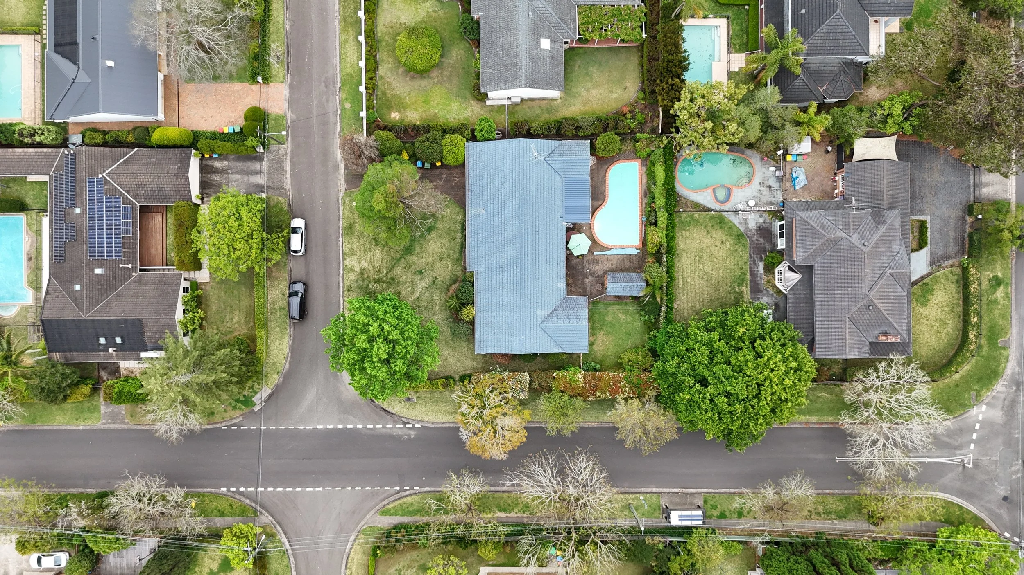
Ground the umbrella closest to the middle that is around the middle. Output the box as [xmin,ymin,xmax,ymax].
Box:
[568,233,592,255]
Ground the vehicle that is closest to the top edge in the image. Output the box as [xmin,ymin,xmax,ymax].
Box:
[288,218,308,256]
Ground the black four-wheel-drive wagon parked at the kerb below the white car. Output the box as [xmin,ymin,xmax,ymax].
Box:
[287,279,308,323]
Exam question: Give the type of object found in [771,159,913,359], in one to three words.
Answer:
house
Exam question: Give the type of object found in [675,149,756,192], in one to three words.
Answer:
swimming pool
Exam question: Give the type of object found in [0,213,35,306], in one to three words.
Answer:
swimming pool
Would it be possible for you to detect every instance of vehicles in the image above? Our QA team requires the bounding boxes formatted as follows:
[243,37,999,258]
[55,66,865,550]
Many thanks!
[287,279,308,323]
[30,551,68,572]
[288,218,308,256]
